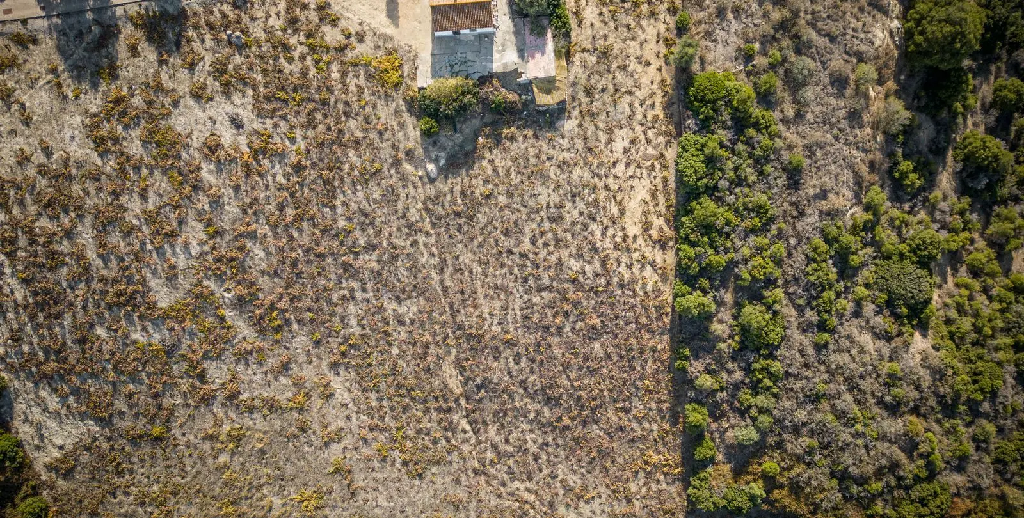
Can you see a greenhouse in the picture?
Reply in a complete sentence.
No, I can't see a single greenhouse in this photo.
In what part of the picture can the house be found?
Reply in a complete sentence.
Look in the top portion of the view to spot the house.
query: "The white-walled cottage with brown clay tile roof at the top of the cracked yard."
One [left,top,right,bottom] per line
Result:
[430,0,494,37]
